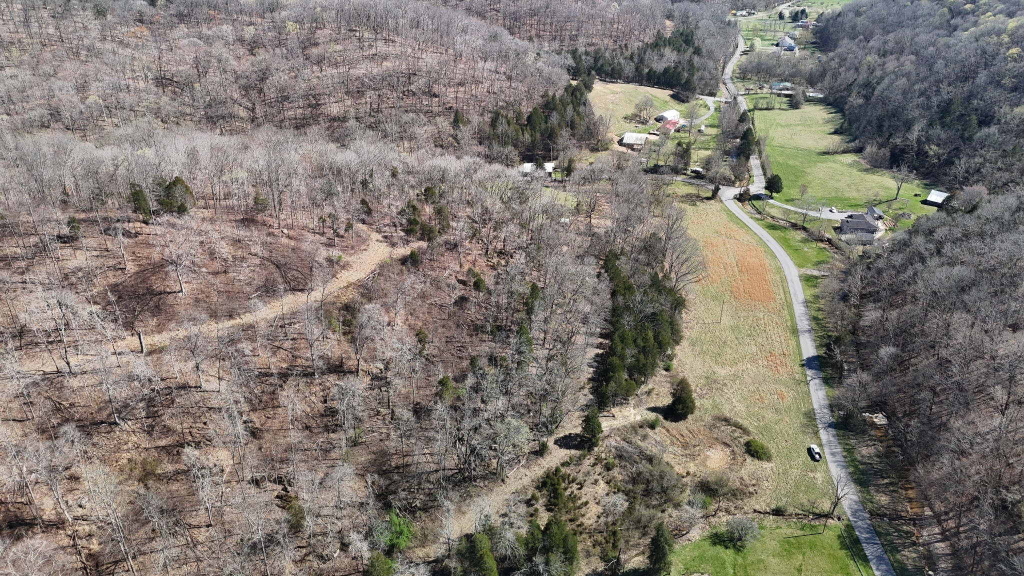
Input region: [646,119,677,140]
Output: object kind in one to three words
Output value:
barn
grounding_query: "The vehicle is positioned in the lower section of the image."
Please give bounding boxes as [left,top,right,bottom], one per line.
[809,443,824,461]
